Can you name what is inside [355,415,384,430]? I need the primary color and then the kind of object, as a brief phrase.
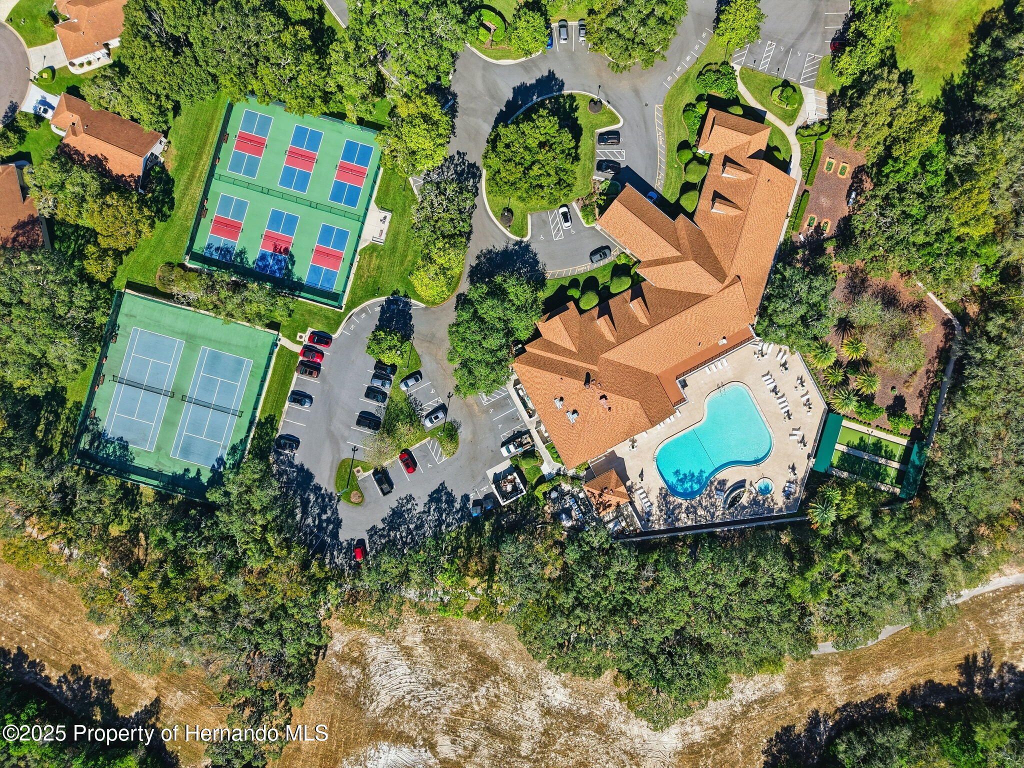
black vehicle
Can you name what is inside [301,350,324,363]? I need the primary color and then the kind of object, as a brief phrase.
red vehicle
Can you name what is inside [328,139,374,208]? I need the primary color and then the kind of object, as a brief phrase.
blue sports court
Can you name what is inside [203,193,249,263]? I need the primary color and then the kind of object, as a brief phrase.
blue sports court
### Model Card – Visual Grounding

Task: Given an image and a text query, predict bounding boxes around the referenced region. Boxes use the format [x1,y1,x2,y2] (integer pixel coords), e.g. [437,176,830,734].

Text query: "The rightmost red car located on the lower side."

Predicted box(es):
[400,451,416,473]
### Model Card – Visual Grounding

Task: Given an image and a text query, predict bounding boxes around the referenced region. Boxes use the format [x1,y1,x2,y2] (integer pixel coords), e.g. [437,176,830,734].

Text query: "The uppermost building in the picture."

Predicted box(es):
[55,0,126,63]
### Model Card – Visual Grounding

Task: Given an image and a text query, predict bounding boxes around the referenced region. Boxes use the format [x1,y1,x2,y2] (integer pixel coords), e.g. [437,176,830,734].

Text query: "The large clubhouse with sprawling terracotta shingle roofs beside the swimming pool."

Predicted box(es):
[517,108,796,471]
